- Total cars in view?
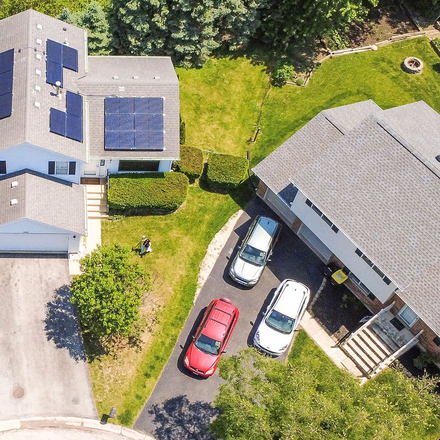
3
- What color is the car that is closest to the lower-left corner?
red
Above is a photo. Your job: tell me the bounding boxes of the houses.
[0,9,180,254]
[249,99,440,379]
